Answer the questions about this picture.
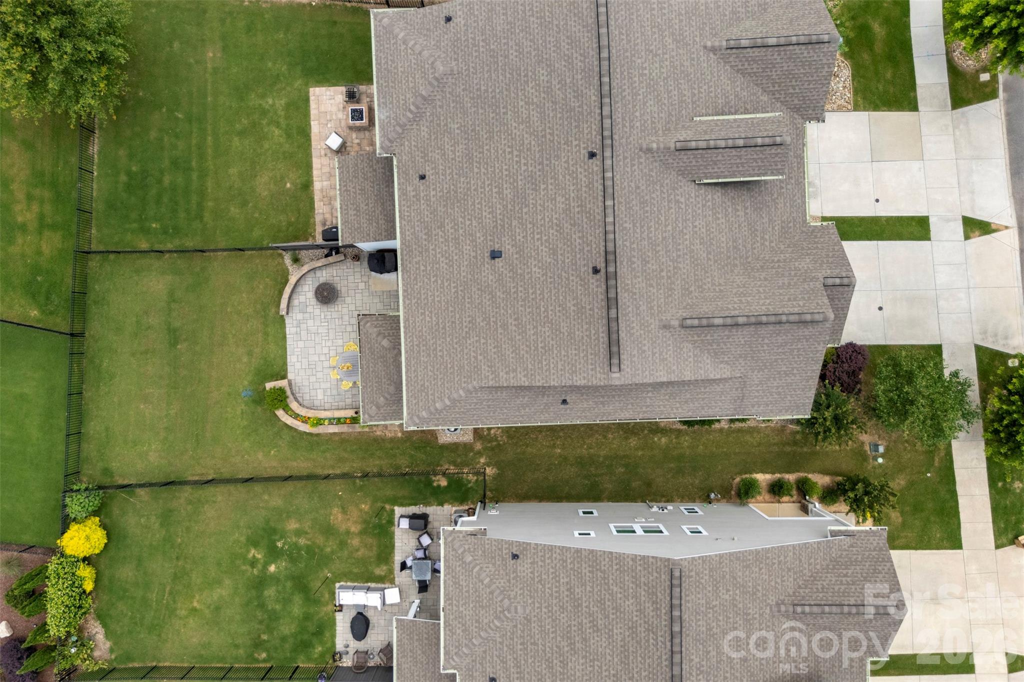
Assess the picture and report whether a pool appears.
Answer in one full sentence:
No, there isn't any pool down there.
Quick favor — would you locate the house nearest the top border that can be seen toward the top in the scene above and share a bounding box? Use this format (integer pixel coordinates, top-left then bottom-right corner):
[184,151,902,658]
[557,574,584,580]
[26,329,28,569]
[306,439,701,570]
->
[336,0,859,429]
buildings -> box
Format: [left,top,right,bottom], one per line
[394,497,907,682]
[336,0,859,429]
